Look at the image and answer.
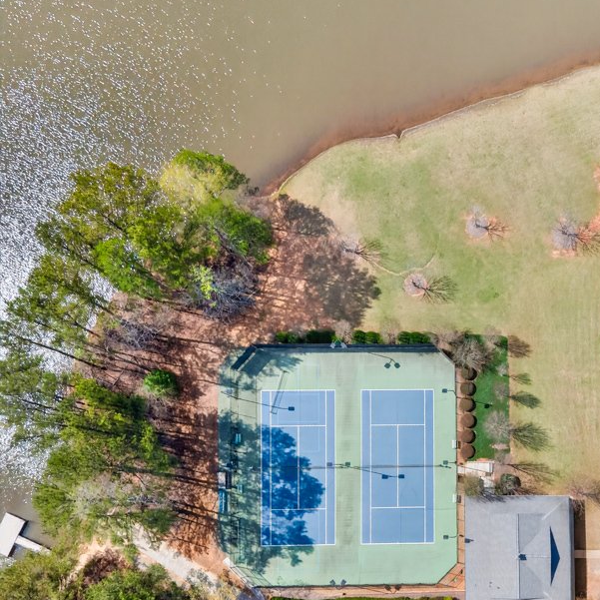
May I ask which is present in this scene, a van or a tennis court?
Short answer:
tennis court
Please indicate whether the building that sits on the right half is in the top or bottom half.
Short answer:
bottom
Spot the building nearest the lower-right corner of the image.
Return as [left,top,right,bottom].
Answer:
[465,496,574,600]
